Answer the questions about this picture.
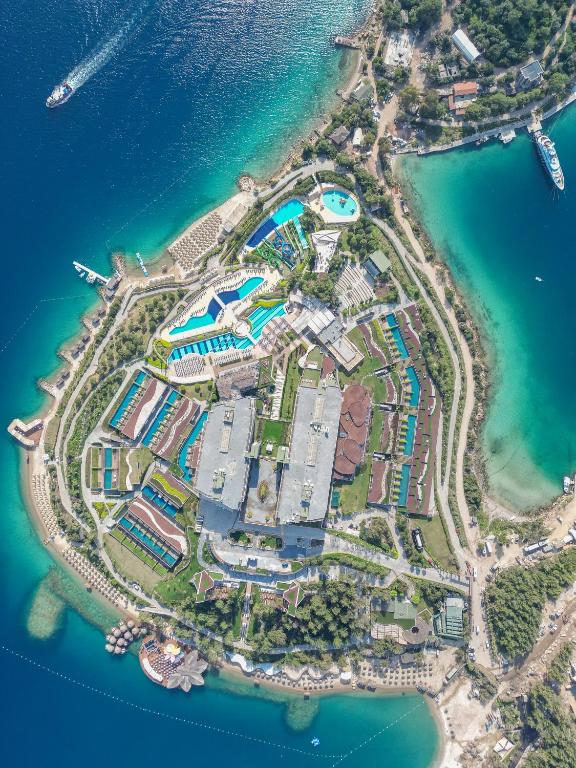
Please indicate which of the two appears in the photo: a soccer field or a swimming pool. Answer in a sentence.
I can see a swimming pool in this picture.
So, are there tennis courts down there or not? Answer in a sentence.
No, I can't see a single tennis court in this photo.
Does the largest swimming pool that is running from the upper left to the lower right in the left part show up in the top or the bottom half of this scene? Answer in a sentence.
Seen from above, the largest swimming pool that is running from the upper left to the lower right in the left part lies in the bottom half of the view.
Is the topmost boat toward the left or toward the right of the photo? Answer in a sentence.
The topmost boat appears in the left half of the scene.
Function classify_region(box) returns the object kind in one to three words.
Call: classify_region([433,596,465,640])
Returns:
greenhouse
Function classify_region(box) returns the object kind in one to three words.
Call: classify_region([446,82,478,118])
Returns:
house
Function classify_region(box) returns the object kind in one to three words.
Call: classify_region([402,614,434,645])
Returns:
building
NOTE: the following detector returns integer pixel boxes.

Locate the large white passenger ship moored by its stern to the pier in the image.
[534,126,566,188]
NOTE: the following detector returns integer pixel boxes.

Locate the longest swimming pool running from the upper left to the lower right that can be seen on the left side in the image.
[119,514,178,566]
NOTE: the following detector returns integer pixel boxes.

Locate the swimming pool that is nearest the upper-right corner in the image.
[322,189,357,216]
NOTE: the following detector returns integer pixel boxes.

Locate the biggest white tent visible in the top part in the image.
[310,230,341,250]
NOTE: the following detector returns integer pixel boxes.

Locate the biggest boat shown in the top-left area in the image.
[45,81,73,107]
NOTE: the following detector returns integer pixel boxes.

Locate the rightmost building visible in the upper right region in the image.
[515,60,544,88]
